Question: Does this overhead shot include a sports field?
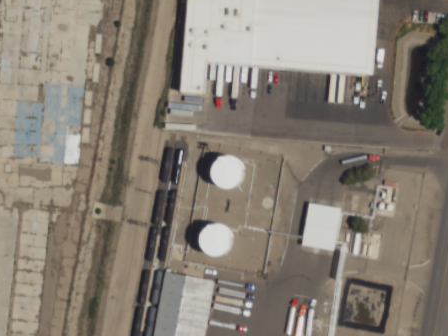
No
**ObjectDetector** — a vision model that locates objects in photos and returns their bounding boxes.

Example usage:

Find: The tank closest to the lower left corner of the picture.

[200,222,235,258]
